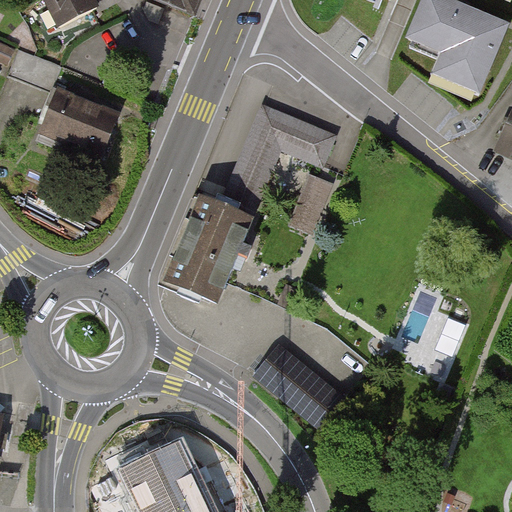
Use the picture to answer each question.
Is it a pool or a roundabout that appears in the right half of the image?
pool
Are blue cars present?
Yes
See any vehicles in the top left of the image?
Yes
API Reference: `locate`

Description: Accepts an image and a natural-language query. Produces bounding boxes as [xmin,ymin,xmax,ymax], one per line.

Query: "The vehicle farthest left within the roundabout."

[35,295,57,320]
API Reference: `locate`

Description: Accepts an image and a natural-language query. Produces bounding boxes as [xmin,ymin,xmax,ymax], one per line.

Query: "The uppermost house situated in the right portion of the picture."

[405,0,510,100]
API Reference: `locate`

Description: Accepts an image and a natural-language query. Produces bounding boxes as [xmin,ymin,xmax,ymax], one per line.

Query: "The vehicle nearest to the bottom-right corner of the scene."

[341,354,364,374]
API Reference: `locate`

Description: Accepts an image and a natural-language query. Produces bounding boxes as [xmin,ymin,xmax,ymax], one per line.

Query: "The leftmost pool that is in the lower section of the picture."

[402,291,437,344]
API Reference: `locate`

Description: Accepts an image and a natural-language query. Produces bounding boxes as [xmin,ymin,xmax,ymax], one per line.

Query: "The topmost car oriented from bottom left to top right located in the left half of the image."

[86,258,110,278]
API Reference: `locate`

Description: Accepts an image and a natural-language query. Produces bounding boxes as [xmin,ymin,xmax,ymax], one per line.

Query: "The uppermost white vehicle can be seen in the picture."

[352,36,368,60]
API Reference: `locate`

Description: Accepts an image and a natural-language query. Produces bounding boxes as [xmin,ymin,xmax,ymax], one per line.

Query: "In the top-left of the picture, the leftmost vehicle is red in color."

[102,28,116,50]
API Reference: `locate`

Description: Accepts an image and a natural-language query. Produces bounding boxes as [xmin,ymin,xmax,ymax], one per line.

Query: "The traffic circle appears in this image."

[22,268,154,402]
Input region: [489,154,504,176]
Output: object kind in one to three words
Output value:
car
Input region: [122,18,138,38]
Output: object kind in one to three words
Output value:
car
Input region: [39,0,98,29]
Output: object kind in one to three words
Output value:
house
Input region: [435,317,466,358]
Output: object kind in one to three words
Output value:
building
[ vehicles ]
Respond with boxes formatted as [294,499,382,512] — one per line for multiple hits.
[352,36,368,60]
[122,18,138,38]
[237,12,260,24]
[102,28,116,50]
[341,354,364,374]
[35,295,57,320]
[480,148,494,172]
[86,258,110,278]
[489,154,504,176]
